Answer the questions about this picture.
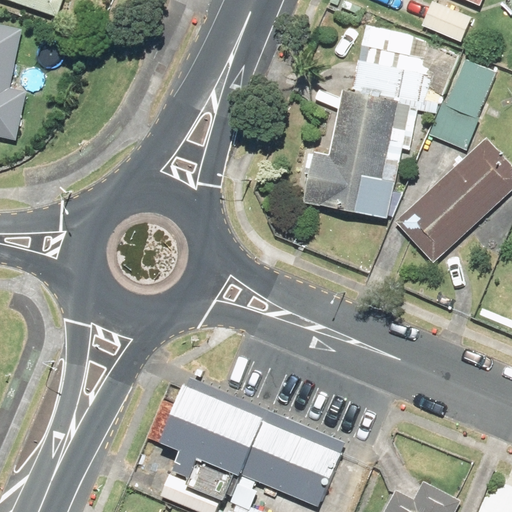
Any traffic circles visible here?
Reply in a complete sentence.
Yes, the photo shows a traffic circle.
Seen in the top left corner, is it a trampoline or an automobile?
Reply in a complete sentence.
You can see a trampoline in the top left corner.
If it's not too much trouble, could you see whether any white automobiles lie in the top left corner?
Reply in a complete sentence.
No, in the top left corner there is no white automobile.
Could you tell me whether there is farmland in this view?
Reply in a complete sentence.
No, the picture contains no farmland.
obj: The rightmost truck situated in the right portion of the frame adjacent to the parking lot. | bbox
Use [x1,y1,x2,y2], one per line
[413,394,448,417]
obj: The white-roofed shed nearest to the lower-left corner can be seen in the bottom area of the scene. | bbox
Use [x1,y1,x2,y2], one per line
[161,474,218,512]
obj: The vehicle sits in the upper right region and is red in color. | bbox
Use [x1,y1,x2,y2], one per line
[410,2,430,18]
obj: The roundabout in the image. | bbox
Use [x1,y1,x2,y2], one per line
[106,212,188,294]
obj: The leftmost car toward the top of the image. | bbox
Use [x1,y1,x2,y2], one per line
[335,28,358,58]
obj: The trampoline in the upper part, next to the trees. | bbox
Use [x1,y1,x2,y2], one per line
[34,43,62,70]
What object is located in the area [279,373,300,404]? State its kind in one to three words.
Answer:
car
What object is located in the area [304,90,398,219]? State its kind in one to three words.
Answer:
house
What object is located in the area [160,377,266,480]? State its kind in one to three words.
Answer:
building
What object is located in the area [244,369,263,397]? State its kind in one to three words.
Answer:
car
